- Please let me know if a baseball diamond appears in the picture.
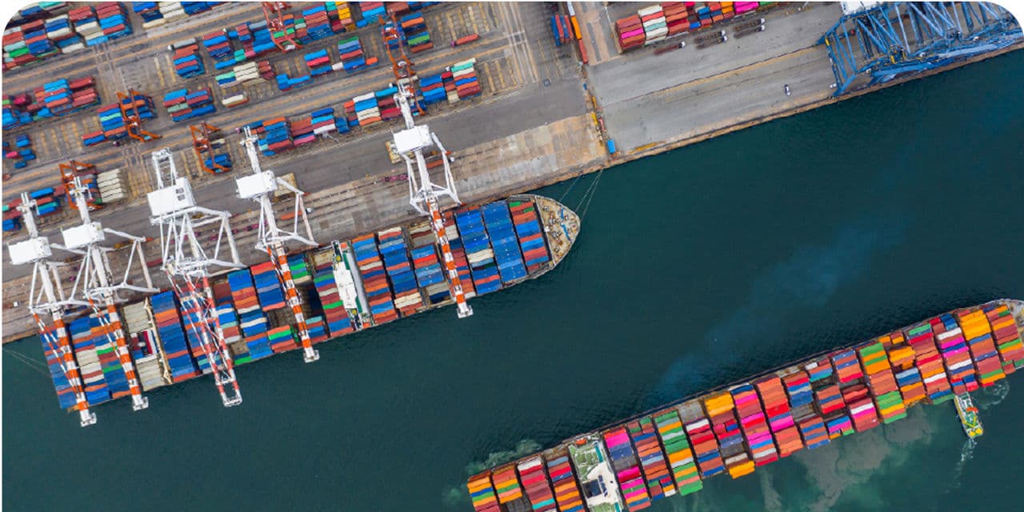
No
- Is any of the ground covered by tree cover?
No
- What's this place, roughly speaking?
port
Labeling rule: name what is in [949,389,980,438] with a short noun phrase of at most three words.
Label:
boat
